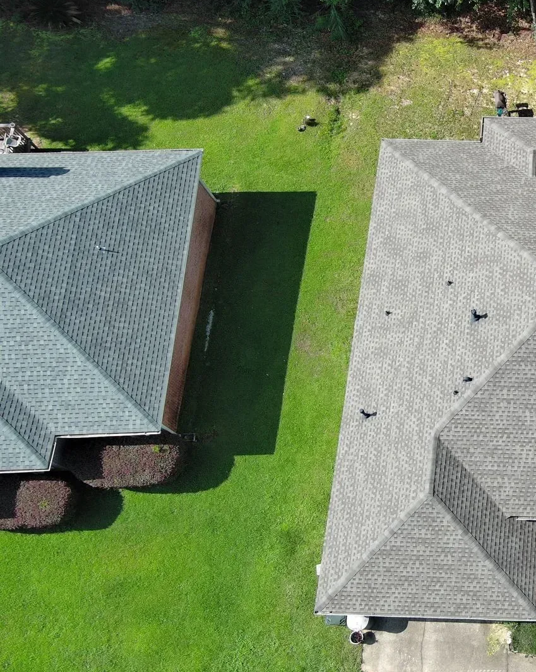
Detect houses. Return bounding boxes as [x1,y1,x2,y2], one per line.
[315,115,536,625]
[0,148,230,474]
